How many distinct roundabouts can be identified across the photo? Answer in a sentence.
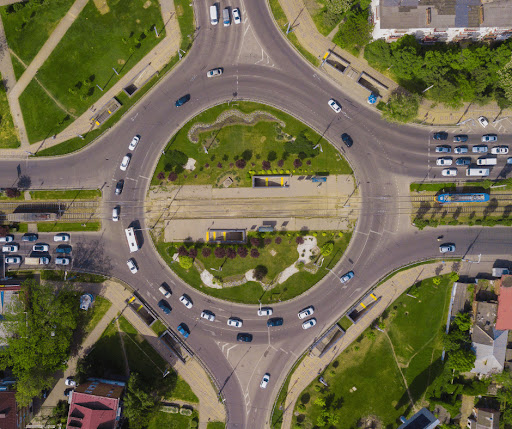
The picture shows 1 roundabout.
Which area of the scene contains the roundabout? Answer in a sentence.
The roundabout is located in the center region of the scene.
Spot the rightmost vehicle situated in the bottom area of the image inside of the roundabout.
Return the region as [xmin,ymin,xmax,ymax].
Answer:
[339,270,354,284]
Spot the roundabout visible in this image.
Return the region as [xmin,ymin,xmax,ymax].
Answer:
[113,66,395,340]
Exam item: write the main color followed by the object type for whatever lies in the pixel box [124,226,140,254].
white vehicle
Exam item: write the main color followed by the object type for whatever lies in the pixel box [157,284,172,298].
white car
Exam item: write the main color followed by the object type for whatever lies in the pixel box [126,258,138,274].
white vehicle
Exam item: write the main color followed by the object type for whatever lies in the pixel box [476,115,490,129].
white car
